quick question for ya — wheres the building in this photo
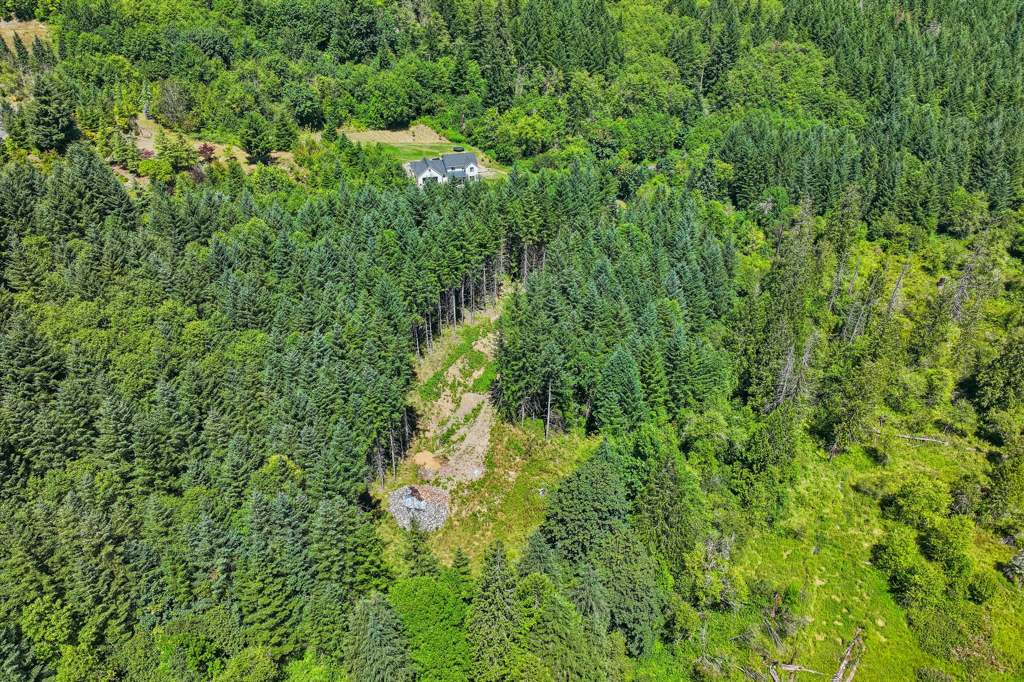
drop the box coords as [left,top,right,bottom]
[409,153,480,185]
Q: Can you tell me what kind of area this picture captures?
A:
forest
